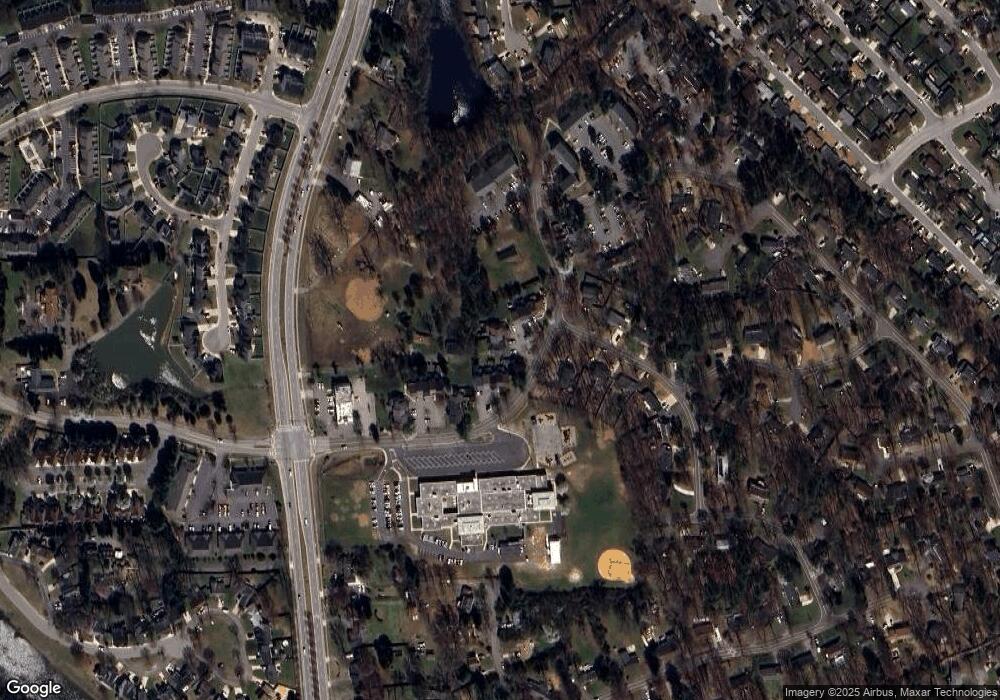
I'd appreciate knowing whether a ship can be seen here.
No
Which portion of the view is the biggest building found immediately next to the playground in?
bottom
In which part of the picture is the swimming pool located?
top left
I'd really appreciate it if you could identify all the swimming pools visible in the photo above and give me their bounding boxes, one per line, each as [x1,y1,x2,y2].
[20,139,45,169]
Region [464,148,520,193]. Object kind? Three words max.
building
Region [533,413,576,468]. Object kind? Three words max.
playground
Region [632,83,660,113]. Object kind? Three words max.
house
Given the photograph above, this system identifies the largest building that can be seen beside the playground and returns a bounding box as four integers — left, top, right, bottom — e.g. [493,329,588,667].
[417,474,556,546]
